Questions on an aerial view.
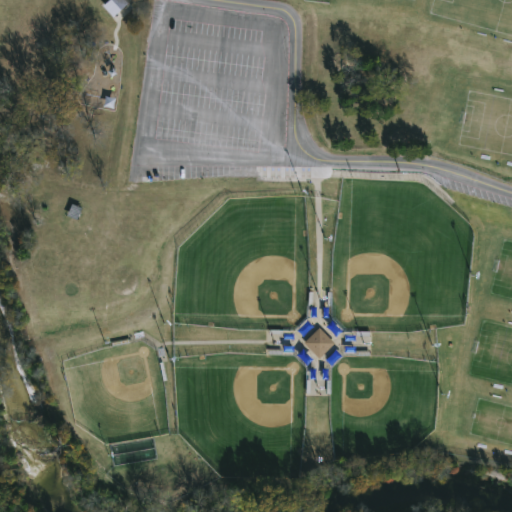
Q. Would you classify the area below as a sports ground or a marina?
sports ground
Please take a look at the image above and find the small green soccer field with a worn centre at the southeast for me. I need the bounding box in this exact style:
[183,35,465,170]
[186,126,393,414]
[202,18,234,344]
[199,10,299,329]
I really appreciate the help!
[470,398,512,444]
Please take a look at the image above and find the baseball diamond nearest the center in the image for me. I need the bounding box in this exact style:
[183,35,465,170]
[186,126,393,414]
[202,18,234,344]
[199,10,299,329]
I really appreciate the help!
[174,197,309,330]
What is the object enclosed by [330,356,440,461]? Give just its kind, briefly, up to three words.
baseball field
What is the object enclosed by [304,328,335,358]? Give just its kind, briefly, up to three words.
building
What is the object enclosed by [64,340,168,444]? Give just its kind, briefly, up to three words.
baseball field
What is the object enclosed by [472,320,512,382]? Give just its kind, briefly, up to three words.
soccer field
